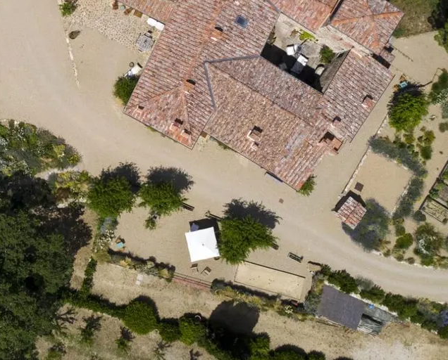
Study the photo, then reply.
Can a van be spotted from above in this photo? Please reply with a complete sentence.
No, there appears to be no van in this shot.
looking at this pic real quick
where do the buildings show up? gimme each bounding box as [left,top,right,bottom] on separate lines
[312,283,365,330]
[110,0,405,192]
[330,197,367,229]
